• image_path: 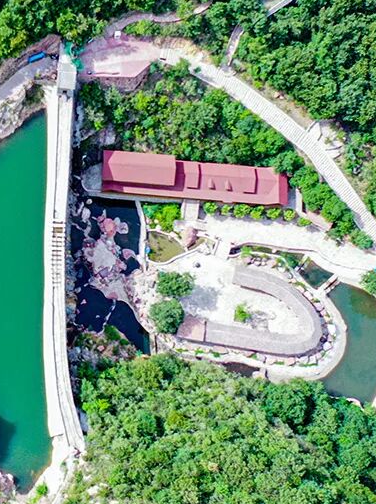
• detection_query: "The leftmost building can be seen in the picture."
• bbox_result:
[57,62,76,94]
